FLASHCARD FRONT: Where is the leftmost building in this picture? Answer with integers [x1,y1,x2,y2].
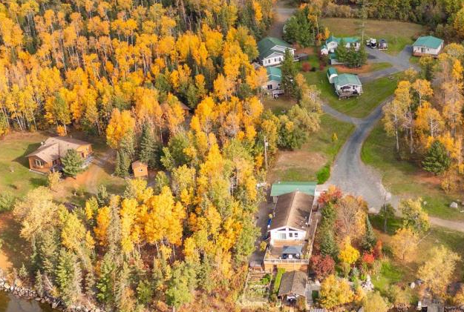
[22,137,103,181]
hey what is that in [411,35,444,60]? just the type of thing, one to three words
building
